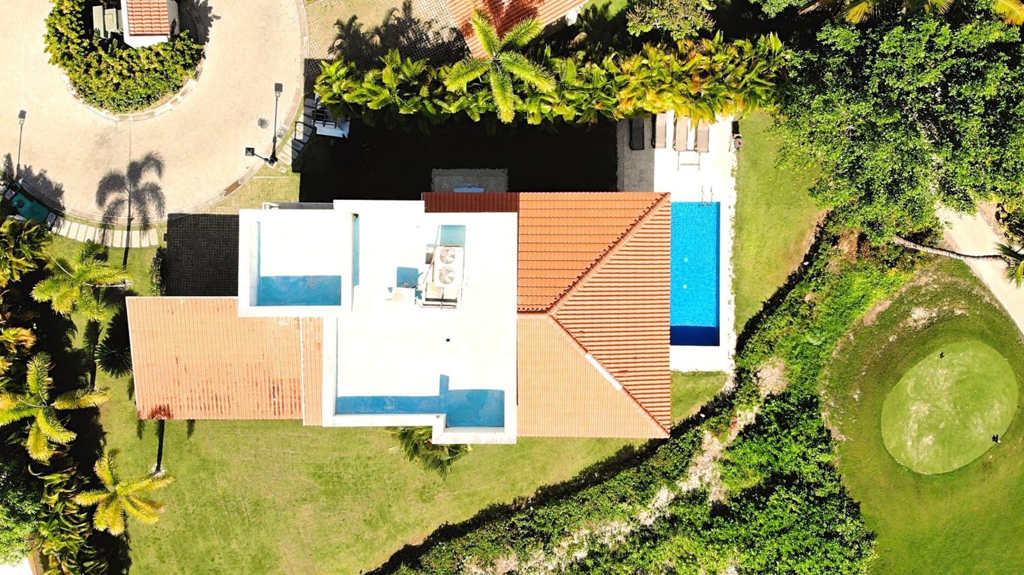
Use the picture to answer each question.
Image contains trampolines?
No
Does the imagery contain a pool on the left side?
No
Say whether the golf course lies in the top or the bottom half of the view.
bottom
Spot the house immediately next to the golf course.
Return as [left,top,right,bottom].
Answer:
[124,188,672,444]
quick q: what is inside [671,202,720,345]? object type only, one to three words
swimming pool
